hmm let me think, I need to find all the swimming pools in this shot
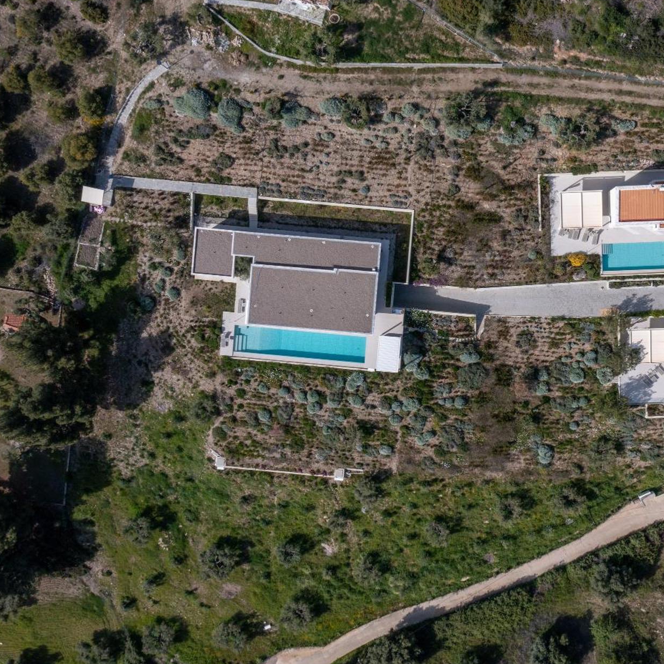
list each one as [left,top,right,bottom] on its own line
[602,242,664,273]
[234,325,366,363]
